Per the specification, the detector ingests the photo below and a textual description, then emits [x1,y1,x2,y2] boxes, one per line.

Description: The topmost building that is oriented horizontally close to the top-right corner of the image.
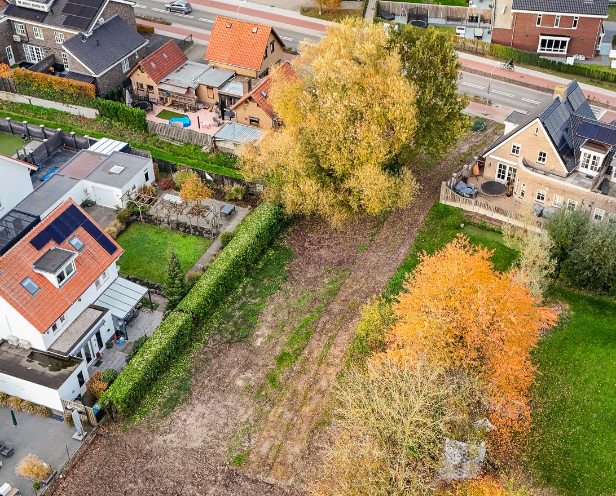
[491,0,610,57]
